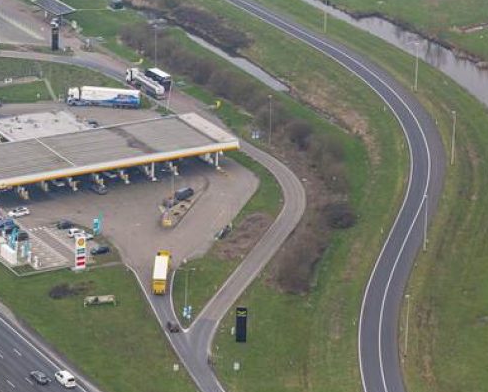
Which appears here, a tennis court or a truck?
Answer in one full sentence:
Looking from above, you can make out a truck.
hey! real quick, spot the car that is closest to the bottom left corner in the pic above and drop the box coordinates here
[31,372,49,385]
